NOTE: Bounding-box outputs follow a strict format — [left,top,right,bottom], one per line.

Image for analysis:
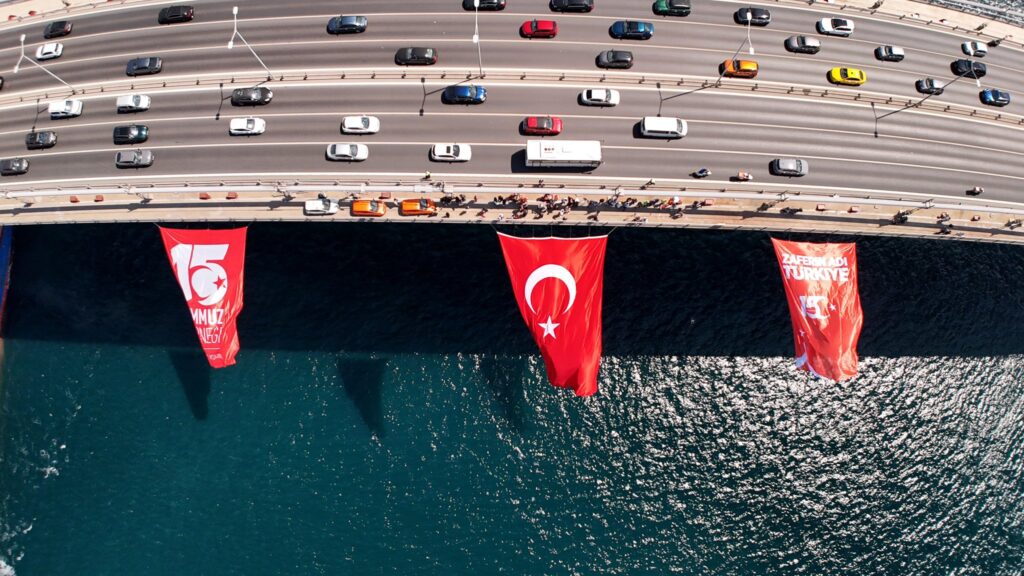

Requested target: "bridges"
[0,0,1024,245]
